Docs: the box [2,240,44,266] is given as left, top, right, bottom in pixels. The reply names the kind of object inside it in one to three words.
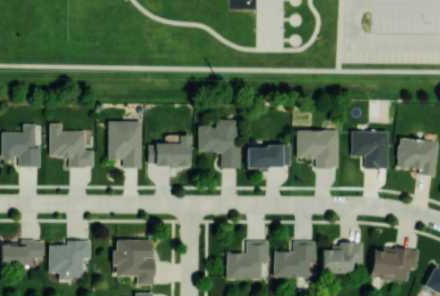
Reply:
house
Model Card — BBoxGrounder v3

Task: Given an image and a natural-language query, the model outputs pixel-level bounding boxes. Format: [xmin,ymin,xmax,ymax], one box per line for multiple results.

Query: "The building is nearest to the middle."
[198,120,242,168]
